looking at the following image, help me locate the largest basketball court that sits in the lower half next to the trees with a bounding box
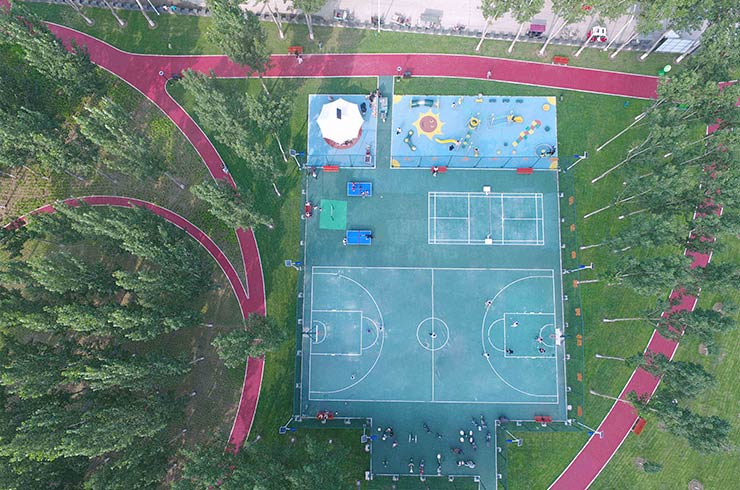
[309,267,558,403]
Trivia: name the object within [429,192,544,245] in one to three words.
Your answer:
sports court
